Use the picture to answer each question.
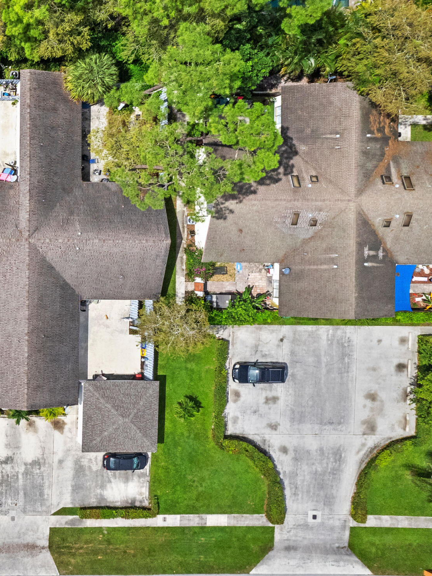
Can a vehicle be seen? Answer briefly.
Yes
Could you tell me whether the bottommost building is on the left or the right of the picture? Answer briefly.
left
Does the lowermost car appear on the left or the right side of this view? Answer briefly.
left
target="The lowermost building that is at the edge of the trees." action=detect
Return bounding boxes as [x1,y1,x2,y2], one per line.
[80,381,159,453]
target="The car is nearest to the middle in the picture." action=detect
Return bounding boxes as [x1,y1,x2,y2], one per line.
[231,360,286,384]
